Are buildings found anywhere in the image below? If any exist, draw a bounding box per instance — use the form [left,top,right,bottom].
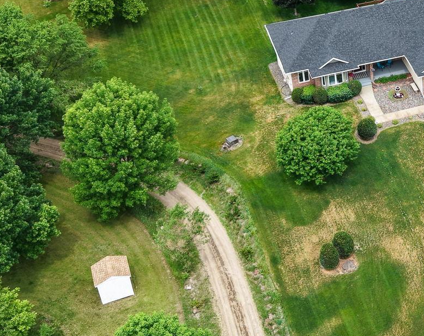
[265,0,424,100]
[90,256,135,304]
